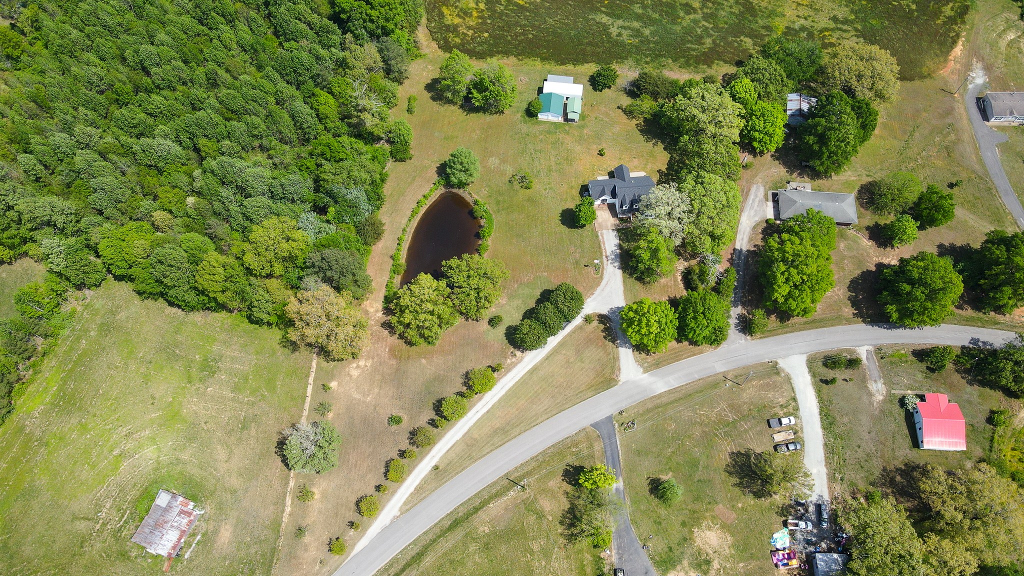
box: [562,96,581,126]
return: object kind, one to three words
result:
shed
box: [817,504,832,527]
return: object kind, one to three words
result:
car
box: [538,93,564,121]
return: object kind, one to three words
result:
building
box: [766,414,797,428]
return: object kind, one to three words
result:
vehicle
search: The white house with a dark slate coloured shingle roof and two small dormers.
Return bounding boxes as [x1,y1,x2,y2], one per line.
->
[587,162,659,229]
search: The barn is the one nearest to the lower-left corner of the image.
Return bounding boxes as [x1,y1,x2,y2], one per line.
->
[130,493,202,559]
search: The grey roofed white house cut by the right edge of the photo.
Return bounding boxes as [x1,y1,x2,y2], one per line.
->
[981,87,1024,123]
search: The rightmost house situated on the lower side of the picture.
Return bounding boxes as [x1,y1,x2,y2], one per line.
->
[913,393,971,450]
